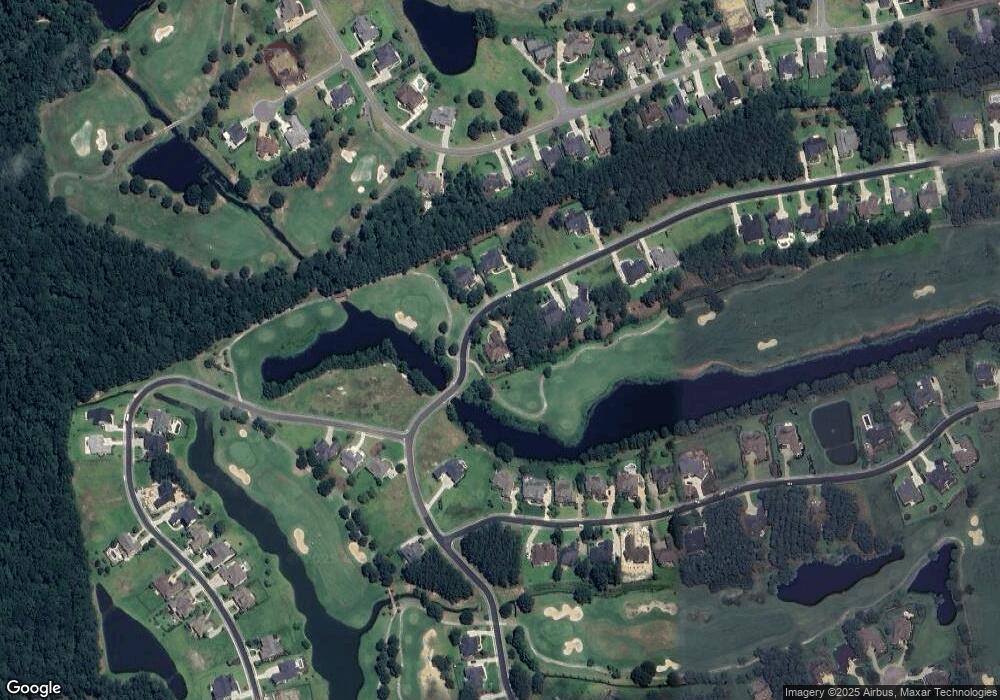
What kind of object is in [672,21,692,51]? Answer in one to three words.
house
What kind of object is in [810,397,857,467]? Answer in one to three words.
pond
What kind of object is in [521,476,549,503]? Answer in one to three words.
house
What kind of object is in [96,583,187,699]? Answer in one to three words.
pond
